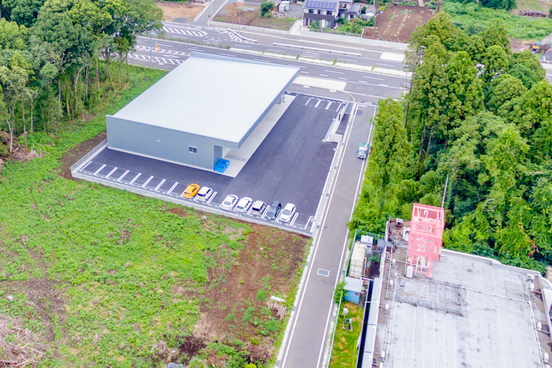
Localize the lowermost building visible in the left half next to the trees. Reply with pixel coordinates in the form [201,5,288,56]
[105,50,298,172]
